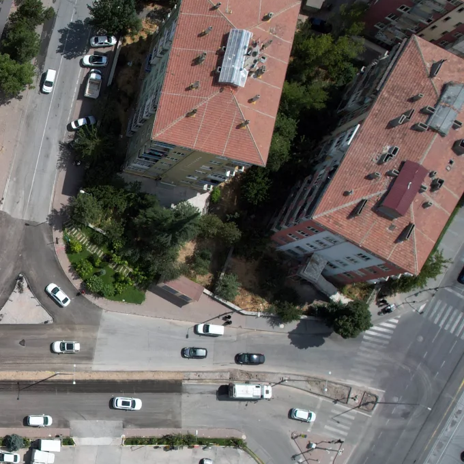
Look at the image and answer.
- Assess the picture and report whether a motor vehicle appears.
Yes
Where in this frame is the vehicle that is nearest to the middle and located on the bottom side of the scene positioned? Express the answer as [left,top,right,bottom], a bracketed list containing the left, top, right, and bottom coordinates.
[193,321,227,337]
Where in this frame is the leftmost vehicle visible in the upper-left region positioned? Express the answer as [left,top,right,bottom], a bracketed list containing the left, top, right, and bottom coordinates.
[40,65,58,96]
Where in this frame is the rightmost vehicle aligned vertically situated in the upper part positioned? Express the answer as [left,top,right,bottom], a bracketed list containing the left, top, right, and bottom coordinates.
[86,66,102,102]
